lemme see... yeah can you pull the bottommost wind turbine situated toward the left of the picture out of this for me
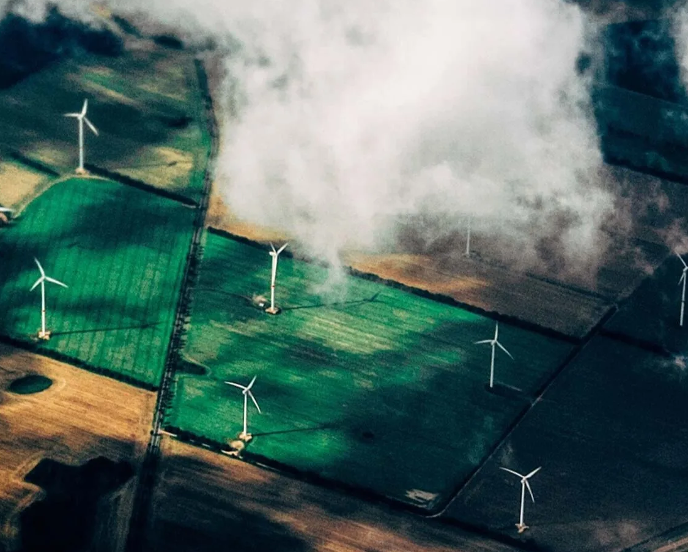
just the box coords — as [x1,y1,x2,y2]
[226,374,259,436]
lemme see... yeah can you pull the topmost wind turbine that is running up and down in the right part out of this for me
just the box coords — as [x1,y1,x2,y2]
[454,177,490,255]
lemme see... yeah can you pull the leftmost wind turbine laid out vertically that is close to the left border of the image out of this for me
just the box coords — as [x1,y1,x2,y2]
[30,257,65,336]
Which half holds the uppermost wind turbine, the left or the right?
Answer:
left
